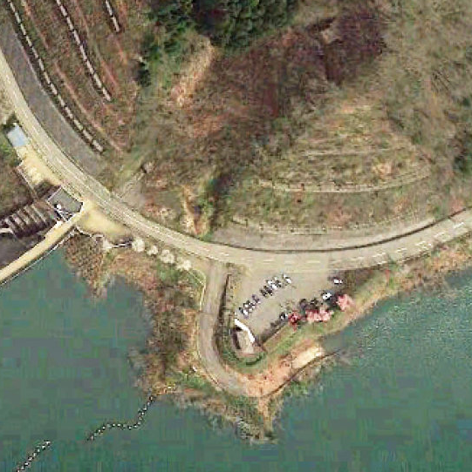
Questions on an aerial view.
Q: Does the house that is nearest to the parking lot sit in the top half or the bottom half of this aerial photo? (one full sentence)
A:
You can find the house that is nearest to the parking lot in the bottom half.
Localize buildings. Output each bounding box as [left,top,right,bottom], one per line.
[48,186,83,218]
[234,317,256,354]
[7,123,30,149]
